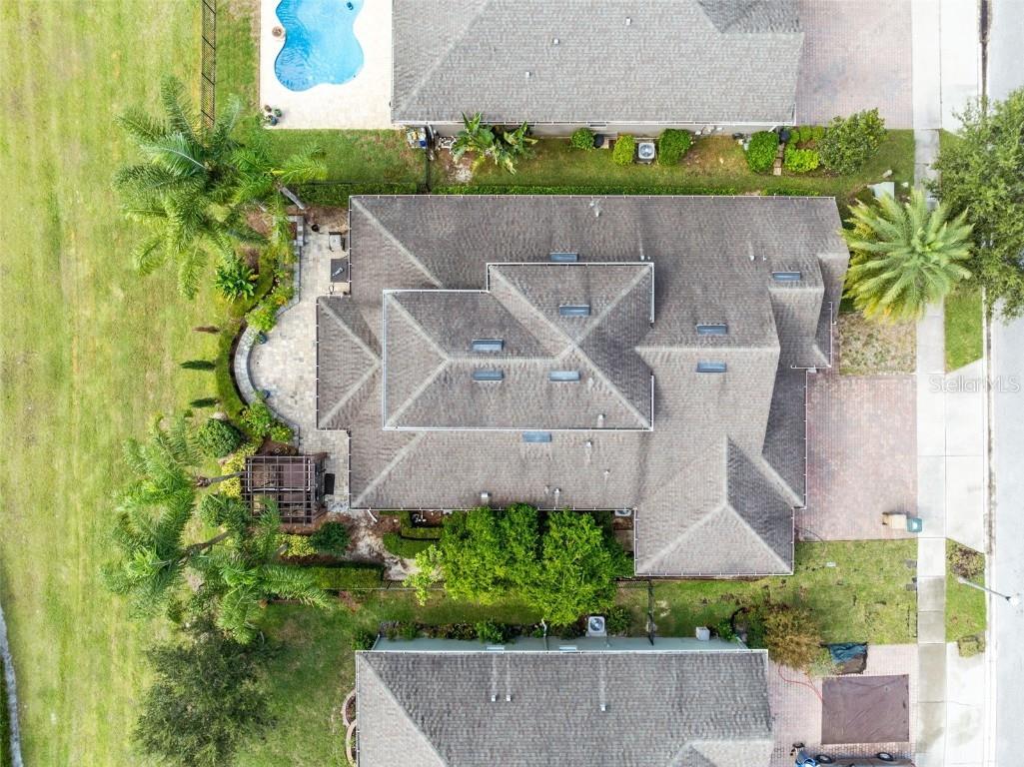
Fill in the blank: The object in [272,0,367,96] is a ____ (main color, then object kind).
blue swimming pool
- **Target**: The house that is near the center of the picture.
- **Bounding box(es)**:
[316,195,851,577]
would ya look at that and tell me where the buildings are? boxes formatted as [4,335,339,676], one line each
[391,0,804,143]
[316,195,851,577]
[356,619,775,767]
